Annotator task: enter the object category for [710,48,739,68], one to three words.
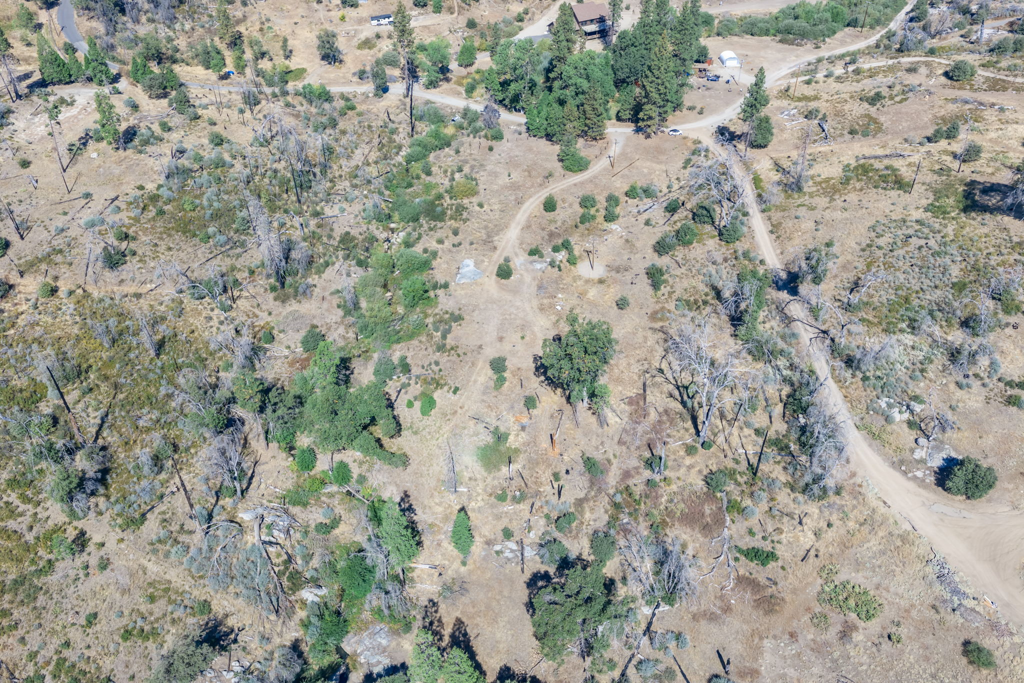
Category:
shed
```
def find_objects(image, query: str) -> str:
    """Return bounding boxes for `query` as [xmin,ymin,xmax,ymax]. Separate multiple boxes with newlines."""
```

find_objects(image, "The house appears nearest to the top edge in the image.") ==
[550,0,612,35]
